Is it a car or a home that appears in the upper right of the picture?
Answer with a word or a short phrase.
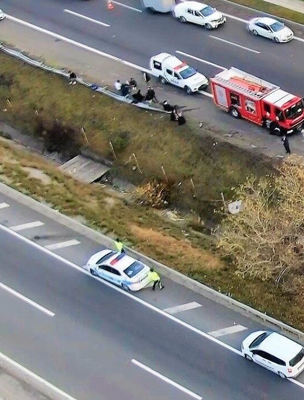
car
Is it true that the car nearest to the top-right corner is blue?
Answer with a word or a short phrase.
No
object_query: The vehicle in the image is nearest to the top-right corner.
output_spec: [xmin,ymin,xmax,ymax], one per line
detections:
[246,17,294,44]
